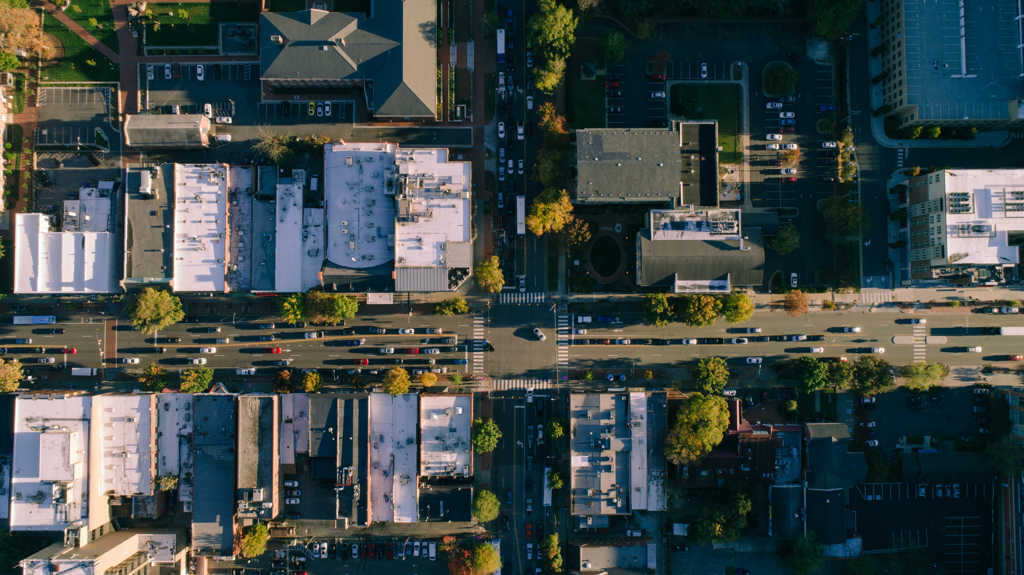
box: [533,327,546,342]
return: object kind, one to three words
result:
vehicle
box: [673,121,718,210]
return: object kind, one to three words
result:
building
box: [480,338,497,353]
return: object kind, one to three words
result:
vehicle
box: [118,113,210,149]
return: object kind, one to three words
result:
house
